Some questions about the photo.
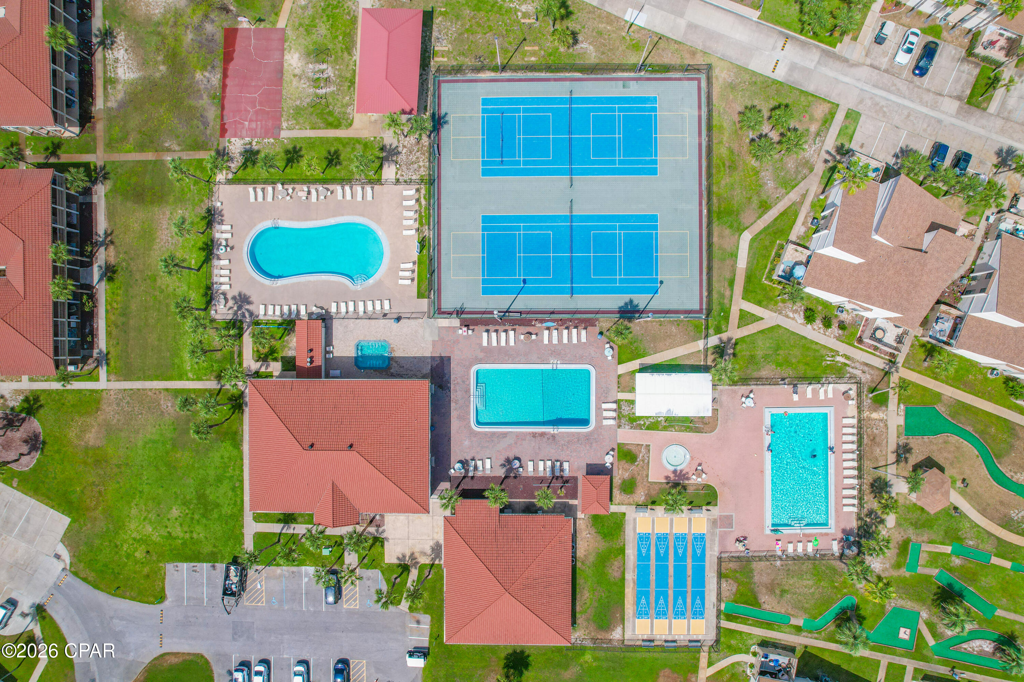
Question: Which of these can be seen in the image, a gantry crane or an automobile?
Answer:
automobile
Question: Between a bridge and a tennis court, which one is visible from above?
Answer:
tennis court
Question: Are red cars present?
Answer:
No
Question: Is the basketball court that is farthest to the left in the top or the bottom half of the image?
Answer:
top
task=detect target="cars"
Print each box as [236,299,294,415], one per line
[874,11,903,47]
[322,567,340,606]
[332,660,347,682]
[914,37,944,77]
[253,660,269,682]
[233,664,250,682]
[896,25,924,65]
[929,139,955,173]
[292,660,307,682]
[950,146,979,183]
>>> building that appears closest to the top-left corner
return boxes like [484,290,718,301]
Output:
[0,0,76,135]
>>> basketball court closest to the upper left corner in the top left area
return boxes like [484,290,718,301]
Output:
[220,27,285,138]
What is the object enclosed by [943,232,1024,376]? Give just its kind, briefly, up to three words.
house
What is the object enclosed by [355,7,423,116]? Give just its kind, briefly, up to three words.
building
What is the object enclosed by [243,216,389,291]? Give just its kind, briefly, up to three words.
swimming pool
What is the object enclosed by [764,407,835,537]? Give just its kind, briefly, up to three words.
swimming pool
